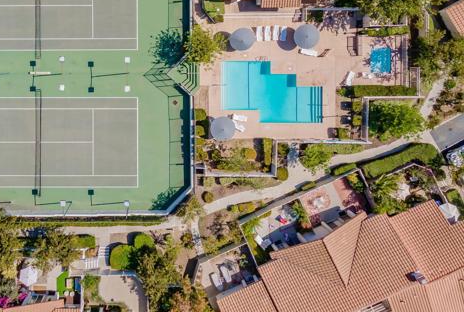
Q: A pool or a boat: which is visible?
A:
pool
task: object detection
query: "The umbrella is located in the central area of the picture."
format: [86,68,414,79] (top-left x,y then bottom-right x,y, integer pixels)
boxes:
[209,115,235,141]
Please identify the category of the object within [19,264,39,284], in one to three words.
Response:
umbrella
